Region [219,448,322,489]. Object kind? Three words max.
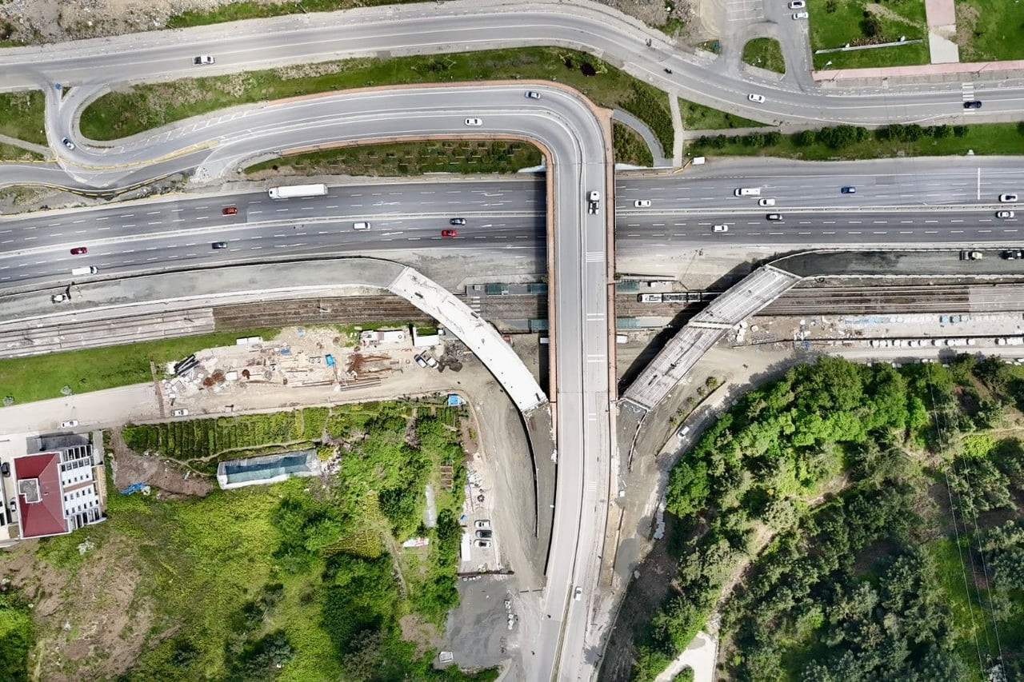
greenhouse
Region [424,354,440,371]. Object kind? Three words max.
vehicle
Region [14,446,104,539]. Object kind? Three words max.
building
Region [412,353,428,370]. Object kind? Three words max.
car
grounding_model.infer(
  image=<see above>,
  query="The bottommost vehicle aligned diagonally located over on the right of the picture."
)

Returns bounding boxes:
[675,423,691,442]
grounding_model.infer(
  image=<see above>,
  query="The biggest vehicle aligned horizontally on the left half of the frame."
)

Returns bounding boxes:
[267,181,327,198]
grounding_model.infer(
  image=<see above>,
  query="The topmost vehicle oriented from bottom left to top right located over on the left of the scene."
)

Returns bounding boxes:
[44,279,74,308]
